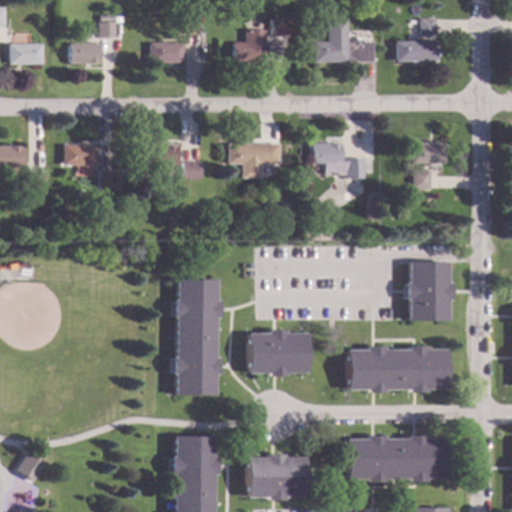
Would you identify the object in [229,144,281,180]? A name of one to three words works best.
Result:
house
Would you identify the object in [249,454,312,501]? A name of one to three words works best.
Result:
building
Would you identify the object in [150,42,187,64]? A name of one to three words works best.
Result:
house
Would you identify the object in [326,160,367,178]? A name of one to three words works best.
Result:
building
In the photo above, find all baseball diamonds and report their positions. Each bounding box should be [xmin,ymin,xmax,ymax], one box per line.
[0,263,158,438]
